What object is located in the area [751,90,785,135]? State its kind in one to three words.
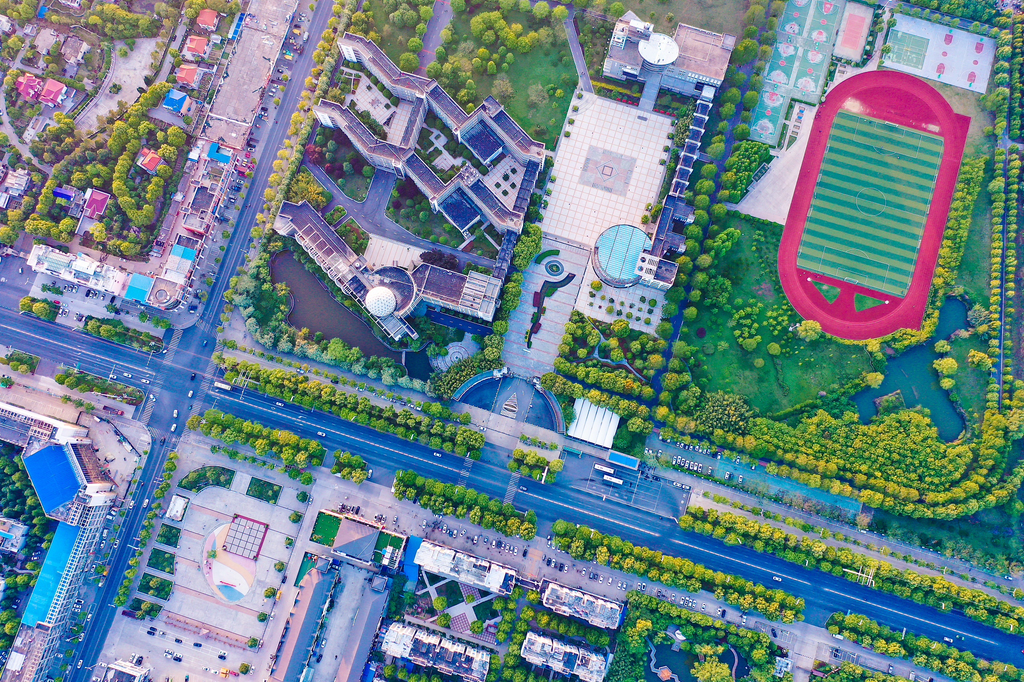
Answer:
basketball court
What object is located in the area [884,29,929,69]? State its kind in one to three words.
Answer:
tennis court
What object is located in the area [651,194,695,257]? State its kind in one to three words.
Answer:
building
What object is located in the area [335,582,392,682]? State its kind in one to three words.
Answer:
shed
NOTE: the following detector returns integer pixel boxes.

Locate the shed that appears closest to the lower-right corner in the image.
[772,655,794,678]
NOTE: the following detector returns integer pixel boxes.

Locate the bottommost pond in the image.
[644,642,745,682]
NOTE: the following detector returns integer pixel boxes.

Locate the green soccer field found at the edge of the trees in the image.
[795,105,946,300]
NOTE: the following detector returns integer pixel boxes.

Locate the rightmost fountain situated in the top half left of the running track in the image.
[546,259,564,277]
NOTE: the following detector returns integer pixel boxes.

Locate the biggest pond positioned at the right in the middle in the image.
[853,296,975,442]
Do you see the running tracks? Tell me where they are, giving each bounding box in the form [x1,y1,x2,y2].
[777,71,972,341]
